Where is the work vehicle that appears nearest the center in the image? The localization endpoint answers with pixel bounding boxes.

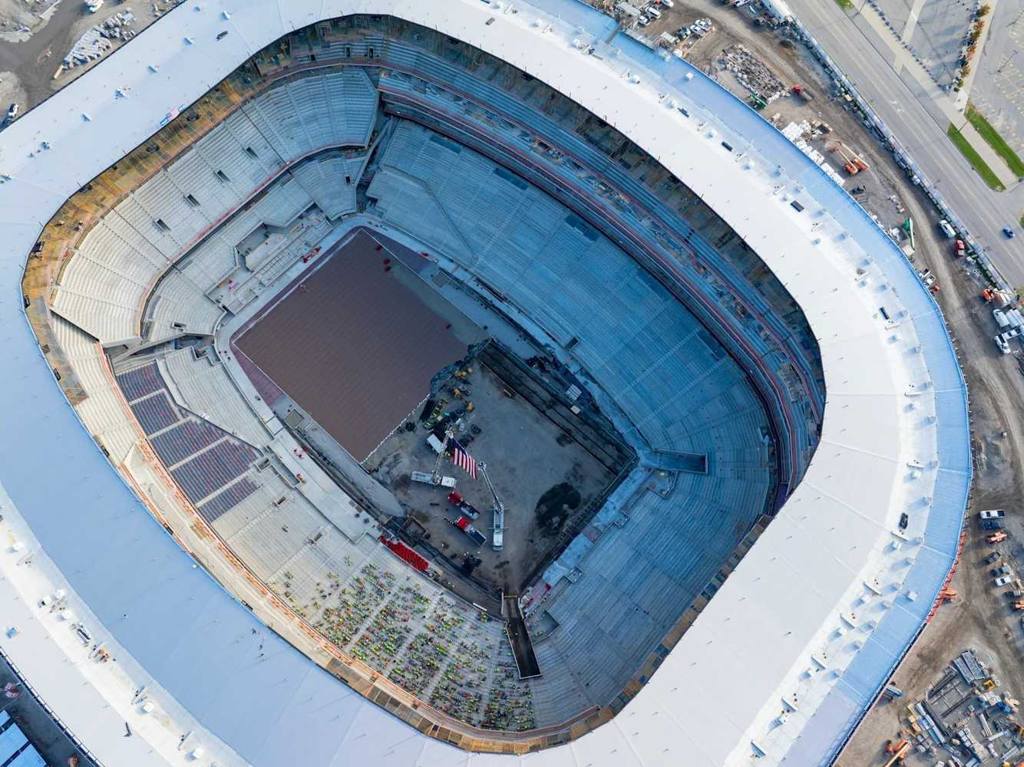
[502,385,518,401]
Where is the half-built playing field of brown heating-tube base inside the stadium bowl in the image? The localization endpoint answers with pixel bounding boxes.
[228,222,490,461]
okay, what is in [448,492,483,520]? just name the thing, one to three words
truck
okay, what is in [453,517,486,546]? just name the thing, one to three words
truck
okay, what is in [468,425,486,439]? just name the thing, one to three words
work vehicle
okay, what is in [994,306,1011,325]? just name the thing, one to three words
vehicle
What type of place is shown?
sports ground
